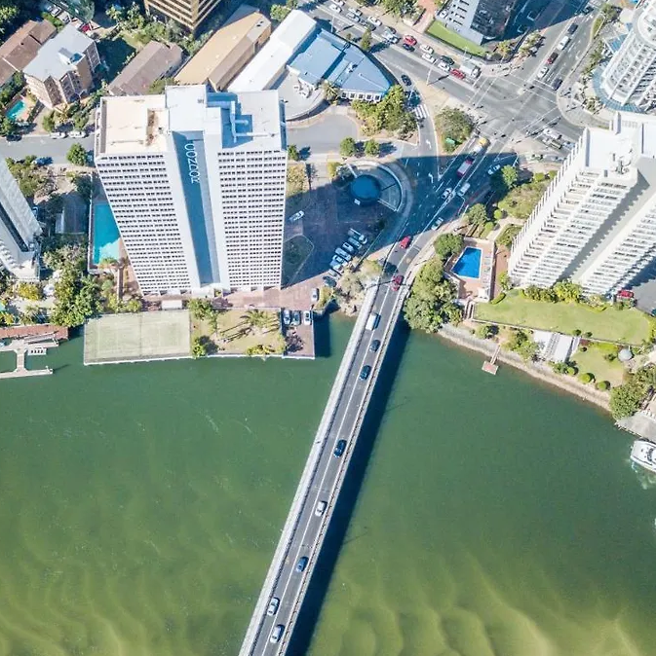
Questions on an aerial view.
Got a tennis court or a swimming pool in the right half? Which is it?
swimming pool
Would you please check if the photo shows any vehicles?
Yes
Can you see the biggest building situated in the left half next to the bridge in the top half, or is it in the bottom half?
top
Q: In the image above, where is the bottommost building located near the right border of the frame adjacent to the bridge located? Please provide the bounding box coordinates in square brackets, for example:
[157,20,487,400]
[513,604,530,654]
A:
[510,113,656,301]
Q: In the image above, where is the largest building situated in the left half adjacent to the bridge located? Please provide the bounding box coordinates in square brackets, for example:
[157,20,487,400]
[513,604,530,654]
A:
[93,83,290,300]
